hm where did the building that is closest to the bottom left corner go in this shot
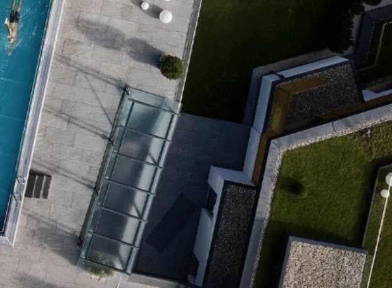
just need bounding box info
[75,84,184,277]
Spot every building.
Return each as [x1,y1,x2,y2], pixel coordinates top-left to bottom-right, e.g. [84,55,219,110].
[75,84,184,277]
[190,46,392,288]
